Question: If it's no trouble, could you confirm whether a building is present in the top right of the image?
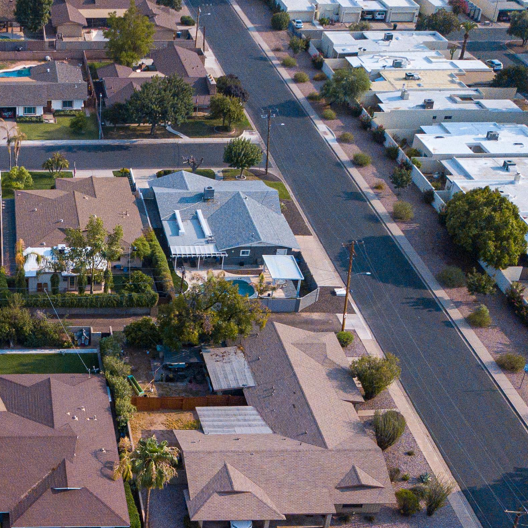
Yes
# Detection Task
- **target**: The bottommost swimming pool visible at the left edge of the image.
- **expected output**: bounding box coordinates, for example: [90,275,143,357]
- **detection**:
[0,66,33,78]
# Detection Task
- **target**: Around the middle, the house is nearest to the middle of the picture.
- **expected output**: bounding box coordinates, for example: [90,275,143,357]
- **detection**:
[145,169,304,274]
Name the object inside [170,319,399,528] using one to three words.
house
